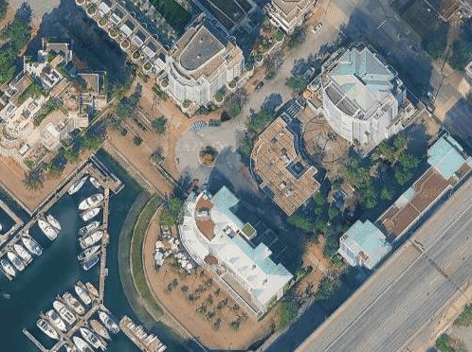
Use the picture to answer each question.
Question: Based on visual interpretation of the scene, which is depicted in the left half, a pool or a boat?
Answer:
boat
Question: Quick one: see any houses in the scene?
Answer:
Yes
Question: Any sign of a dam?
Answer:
No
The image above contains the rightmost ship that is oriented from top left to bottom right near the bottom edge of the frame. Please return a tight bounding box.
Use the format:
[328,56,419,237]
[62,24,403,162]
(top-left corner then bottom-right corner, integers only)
[120,316,172,352]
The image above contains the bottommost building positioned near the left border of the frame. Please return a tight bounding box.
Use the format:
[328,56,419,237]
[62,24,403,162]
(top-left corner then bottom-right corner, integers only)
[0,43,107,167]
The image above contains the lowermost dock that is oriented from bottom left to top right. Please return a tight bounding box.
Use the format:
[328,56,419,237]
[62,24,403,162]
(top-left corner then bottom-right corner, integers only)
[43,302,102,352]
